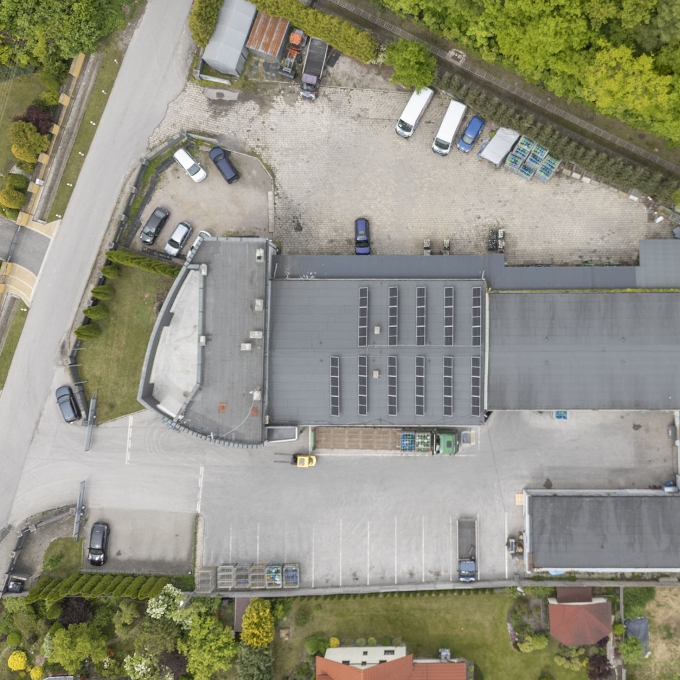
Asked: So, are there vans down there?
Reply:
Yes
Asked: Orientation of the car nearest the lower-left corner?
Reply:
from top to bottom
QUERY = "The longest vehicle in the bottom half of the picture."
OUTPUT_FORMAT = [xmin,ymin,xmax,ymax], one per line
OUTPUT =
[311,429,460,455]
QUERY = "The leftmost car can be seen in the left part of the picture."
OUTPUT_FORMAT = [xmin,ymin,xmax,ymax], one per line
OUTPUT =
[54,384,82,425]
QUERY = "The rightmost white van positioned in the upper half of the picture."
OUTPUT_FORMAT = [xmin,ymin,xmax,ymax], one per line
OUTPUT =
[433,98,467,157]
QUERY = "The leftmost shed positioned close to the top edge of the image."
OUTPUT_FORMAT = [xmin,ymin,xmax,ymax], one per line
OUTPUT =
[203,0,258,82]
